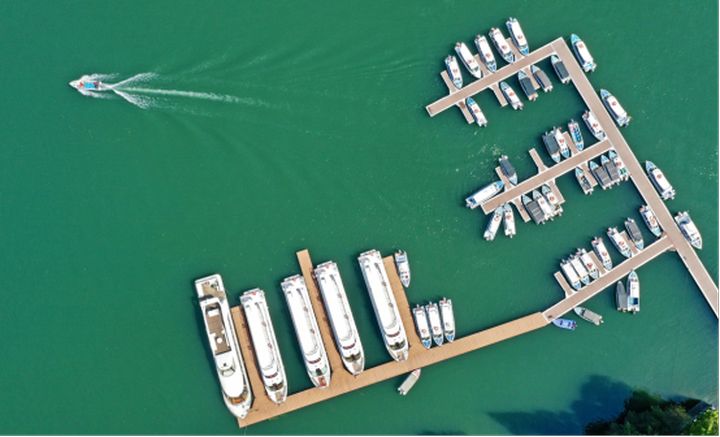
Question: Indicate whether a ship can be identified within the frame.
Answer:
Yes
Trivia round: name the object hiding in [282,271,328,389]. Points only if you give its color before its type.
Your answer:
white ship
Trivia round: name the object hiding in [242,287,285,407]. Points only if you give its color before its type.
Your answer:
white ship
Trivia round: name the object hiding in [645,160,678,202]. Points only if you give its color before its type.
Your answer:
white boat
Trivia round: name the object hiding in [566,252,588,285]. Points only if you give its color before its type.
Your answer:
white boat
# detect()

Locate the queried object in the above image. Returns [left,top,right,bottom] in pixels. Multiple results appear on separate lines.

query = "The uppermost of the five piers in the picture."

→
[426,37,553,124]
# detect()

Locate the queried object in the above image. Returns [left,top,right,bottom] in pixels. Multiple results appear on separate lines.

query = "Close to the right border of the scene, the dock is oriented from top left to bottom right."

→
[551,38,720,322]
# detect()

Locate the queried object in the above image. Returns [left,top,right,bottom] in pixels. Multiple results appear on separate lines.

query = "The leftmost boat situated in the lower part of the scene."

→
[197,274,250,420]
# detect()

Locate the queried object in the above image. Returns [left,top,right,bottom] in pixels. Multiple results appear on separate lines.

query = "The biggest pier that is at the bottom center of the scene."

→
[231,248,551,429]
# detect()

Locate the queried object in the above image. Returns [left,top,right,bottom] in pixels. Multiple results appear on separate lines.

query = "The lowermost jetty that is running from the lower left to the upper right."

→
[544,230,676,322]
